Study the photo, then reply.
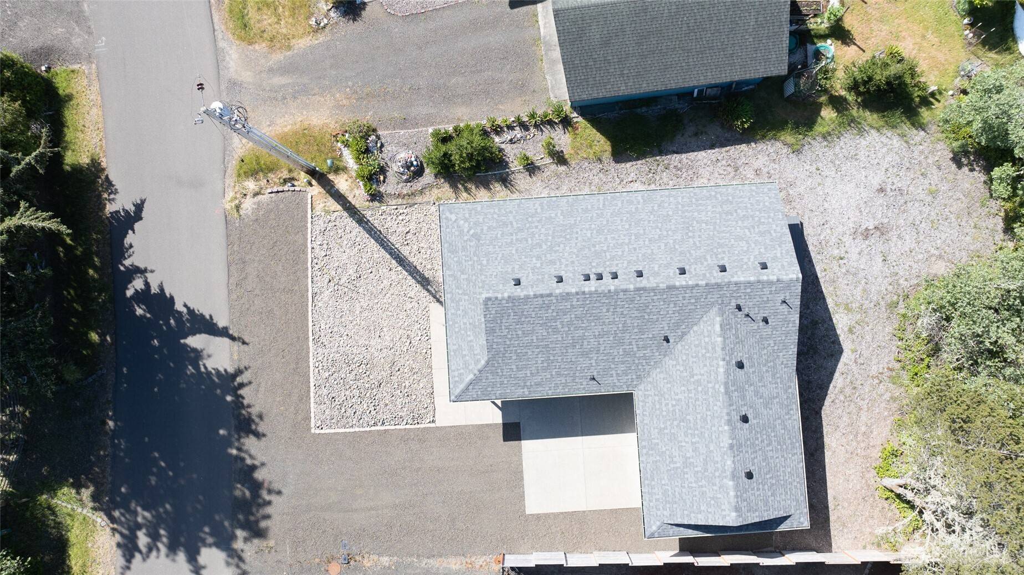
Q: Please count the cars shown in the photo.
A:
0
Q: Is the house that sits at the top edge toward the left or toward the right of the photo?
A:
right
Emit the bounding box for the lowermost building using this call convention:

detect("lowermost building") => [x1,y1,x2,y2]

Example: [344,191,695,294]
[436,178,811,541]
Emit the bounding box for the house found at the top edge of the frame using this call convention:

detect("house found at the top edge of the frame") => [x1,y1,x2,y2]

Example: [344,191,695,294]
[551,0,791,111]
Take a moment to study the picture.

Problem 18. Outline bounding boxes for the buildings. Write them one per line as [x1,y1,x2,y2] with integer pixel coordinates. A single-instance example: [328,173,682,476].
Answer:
[551,0,791,111]
[436,178,811,541]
